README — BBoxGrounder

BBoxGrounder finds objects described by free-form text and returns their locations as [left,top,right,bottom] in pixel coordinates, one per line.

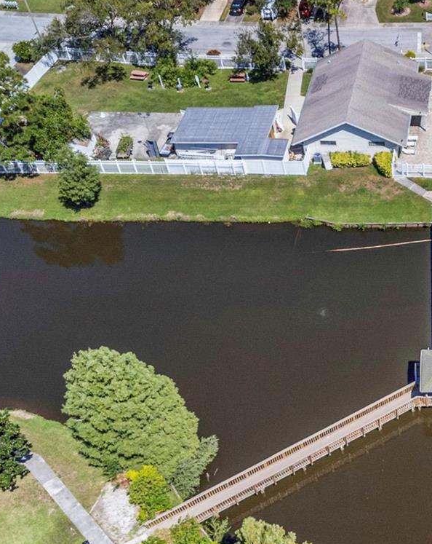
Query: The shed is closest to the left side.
[169,105,289,162]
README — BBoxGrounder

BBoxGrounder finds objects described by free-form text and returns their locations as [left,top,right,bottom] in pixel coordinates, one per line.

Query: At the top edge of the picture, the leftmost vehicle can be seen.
[227,0,247,15]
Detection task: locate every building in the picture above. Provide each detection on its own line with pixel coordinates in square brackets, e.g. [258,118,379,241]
[291,41,432,164]
[169,105,289,162]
